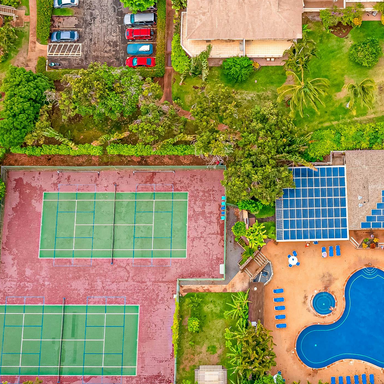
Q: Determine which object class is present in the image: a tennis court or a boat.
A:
tennis court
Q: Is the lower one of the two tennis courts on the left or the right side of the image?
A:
left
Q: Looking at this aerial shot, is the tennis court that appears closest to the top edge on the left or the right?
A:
left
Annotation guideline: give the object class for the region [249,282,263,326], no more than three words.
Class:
shed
